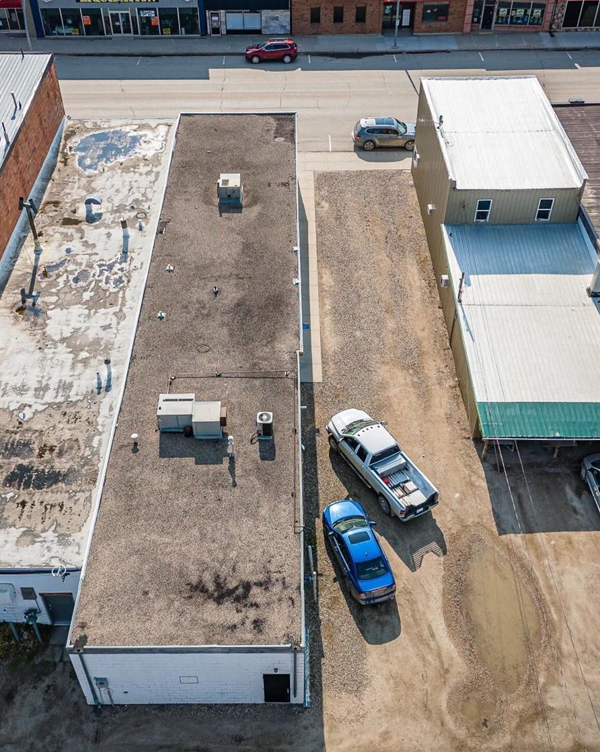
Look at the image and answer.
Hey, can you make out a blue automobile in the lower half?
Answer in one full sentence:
Yes, a blue automobile can be seen in the lower half.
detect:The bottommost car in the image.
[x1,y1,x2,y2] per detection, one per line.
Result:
[324,501,402,605]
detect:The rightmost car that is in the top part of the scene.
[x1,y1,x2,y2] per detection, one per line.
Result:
[354,113,416,148]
